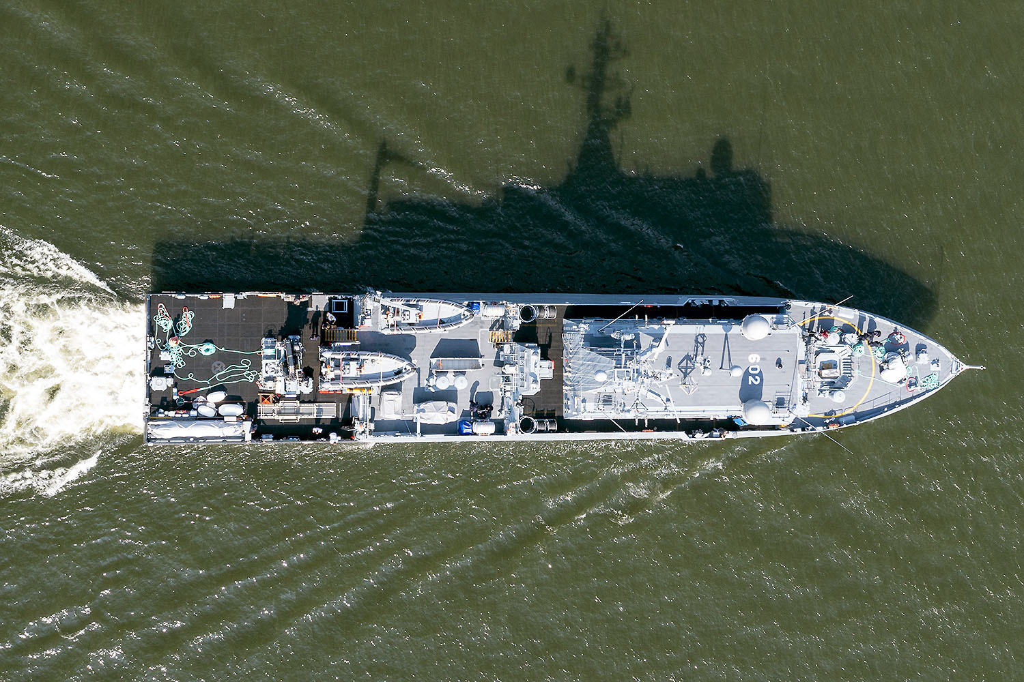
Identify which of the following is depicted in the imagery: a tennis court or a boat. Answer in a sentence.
It is a boat that can be seen here.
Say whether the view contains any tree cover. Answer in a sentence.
No, no tree cover is visible.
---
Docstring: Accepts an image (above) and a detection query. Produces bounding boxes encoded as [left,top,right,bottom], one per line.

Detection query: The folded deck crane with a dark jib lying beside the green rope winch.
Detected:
[276,336,312,397]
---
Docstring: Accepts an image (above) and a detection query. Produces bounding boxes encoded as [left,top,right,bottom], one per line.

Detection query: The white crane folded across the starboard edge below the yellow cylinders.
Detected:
[349,390,376,441]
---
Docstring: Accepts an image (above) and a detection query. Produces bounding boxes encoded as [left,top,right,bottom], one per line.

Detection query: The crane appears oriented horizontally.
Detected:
[362,290,428,314]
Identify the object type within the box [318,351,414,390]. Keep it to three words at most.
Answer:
boat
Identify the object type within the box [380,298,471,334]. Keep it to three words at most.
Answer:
boat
